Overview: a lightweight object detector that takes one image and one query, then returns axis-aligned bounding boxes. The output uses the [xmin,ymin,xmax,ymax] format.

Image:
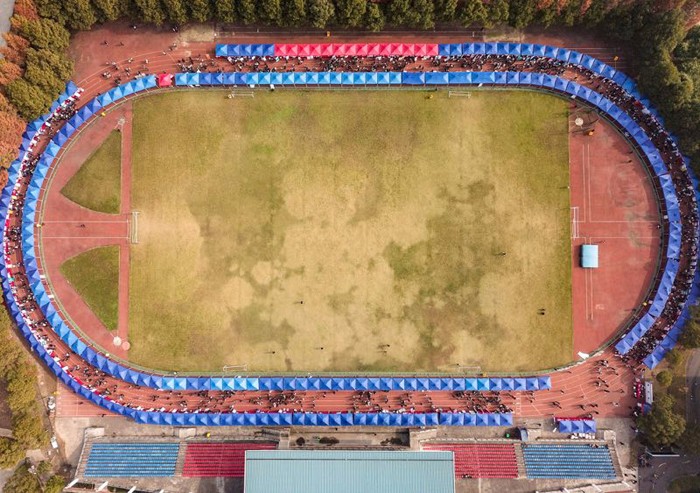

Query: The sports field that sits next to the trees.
[128,90,574,372]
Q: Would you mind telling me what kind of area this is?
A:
sports ground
